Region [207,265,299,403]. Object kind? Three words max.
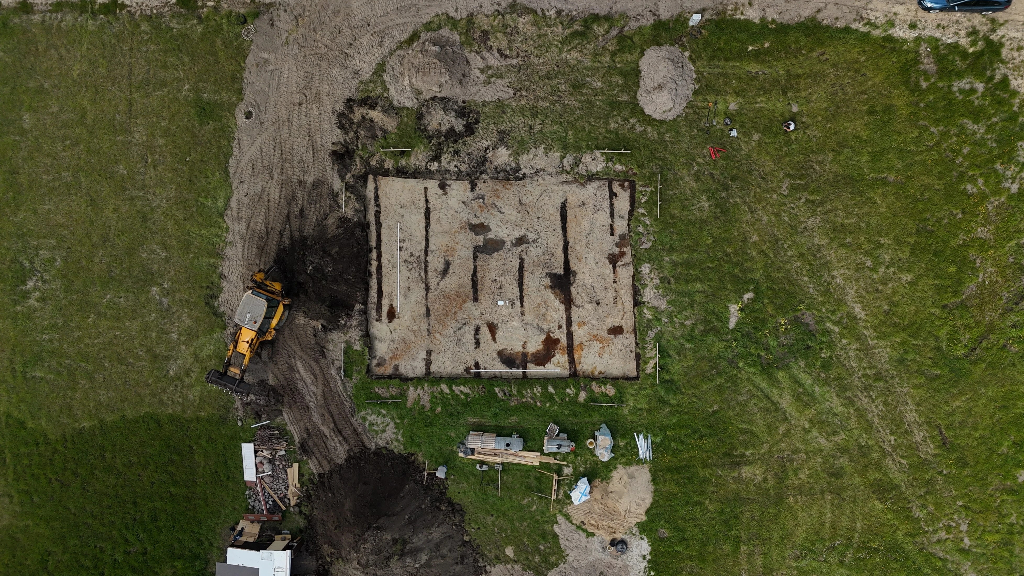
work vehicle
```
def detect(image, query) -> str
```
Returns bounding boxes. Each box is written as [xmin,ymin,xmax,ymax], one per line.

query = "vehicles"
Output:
[207,265,299,403]
[915,0,1018,14]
